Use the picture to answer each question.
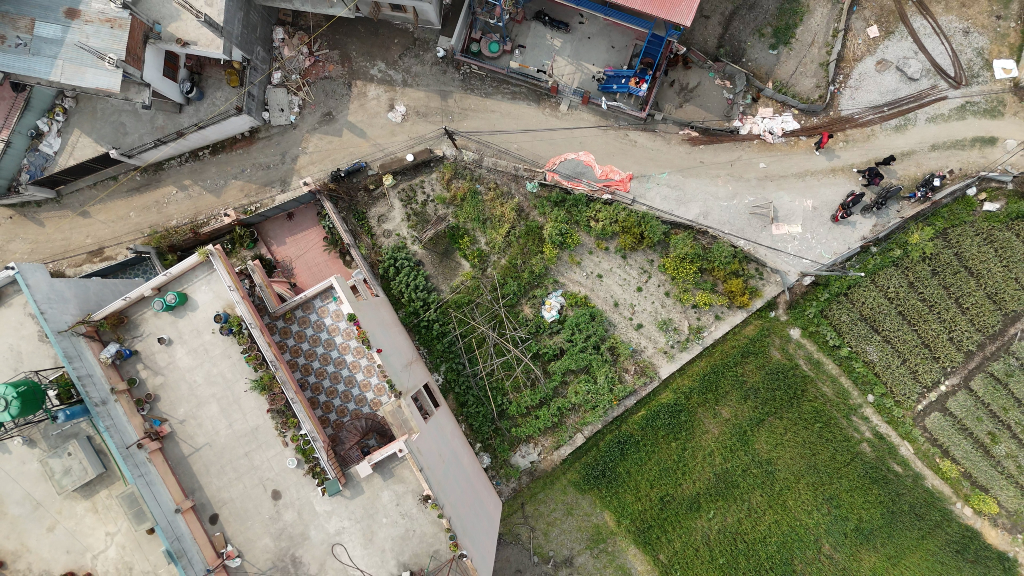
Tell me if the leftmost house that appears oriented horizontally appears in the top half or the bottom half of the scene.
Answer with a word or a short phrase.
top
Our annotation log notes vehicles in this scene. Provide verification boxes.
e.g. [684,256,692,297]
[531,2,570,34]
[905,171,950,199]
[861,184,905,211]
[328,158,368,181]
[830,189,866,222]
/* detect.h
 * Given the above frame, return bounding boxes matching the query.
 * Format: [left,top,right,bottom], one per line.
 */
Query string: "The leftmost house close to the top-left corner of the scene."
[0,0,277,114]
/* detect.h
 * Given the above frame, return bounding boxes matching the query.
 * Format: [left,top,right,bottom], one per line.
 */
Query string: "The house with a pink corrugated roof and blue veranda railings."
[542,0,700,102]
